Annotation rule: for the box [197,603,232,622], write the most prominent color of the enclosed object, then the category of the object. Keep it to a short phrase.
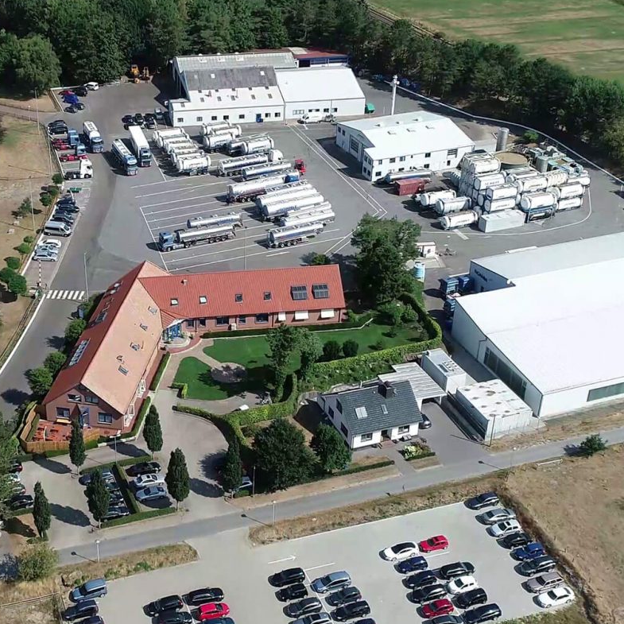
red car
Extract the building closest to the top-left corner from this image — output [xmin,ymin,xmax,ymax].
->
[170,49,295,126]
